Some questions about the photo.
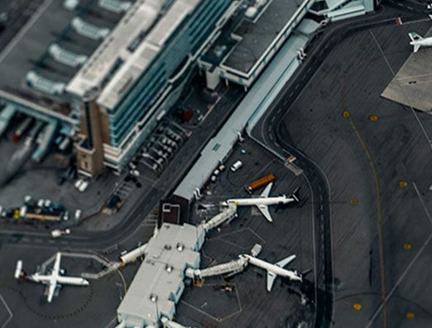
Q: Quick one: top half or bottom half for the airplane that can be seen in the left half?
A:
bottom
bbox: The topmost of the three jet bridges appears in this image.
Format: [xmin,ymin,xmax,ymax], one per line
[198,200,238,236]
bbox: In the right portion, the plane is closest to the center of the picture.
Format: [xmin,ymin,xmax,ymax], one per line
[223,182,295,221]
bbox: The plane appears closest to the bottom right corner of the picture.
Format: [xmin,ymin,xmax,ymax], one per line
[239,254,307,289]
